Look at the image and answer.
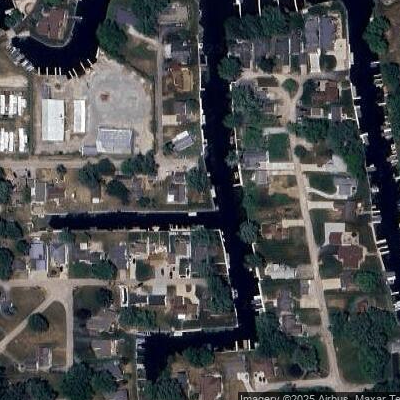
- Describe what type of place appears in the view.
residential area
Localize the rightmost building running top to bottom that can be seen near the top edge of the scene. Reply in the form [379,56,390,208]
[321,17,336,54]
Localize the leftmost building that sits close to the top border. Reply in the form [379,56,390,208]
[37,7,64,39]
